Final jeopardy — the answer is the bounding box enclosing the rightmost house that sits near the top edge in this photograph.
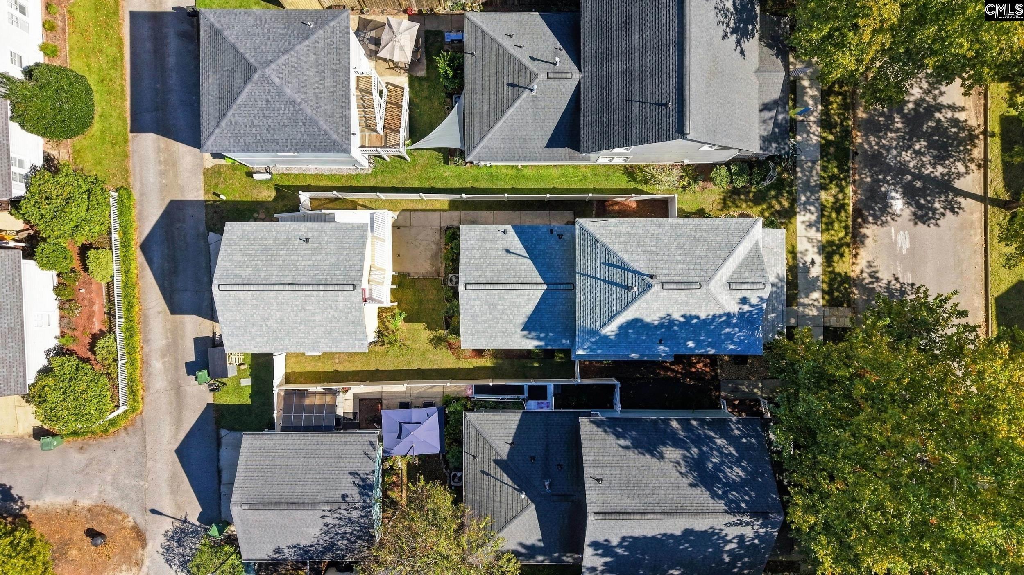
[463,0,790,170]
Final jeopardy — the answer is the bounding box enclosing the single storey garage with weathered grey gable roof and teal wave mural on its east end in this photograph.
[229,429,384,564]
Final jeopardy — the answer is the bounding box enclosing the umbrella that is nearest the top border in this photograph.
[377,16,420,64]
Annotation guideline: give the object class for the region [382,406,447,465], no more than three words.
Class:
umbrella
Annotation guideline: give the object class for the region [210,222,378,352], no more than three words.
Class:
building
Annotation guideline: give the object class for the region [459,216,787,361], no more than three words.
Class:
house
